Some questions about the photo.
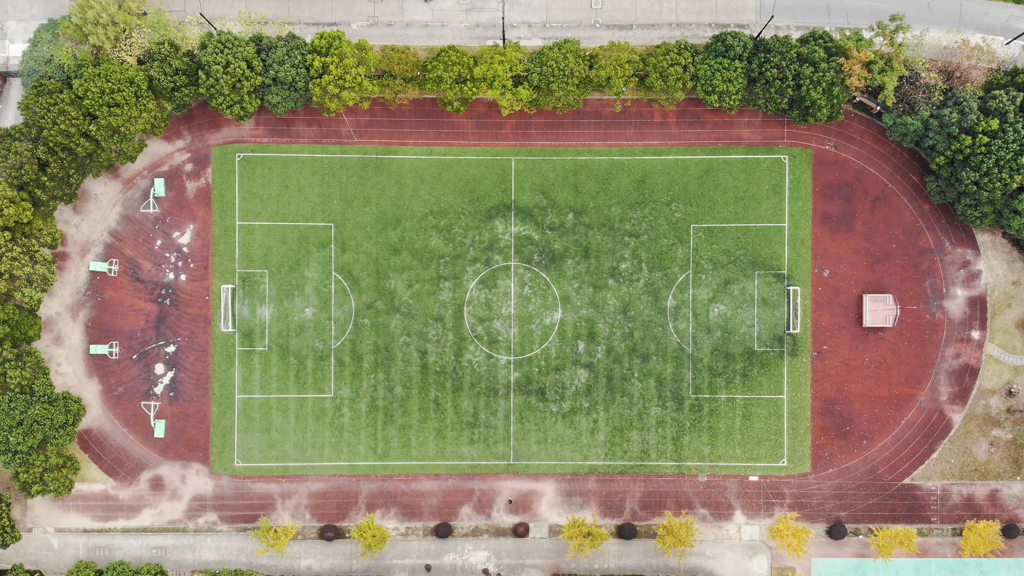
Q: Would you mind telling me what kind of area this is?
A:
sports ground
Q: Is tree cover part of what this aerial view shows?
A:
Yes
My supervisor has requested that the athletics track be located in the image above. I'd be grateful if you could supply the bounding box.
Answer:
[27,96,1024,524]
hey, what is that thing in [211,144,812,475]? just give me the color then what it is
green sports field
